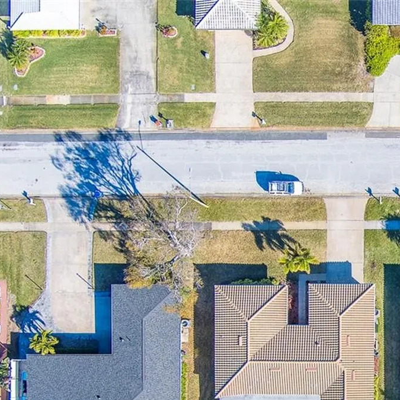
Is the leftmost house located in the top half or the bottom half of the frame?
top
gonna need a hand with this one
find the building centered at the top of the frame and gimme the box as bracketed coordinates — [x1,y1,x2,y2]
[193,0,262,33]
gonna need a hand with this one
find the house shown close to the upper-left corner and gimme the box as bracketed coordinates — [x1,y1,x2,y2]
[9,0,84,32]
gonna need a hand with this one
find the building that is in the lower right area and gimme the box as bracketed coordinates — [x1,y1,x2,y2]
[213,282,376,400]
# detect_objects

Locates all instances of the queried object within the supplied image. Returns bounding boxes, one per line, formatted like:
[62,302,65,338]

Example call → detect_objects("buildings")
[193,0,262,33]
[213,282,376,400]
[9,0,84,32]
[371,0,400,29]
[27,284,184,400]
